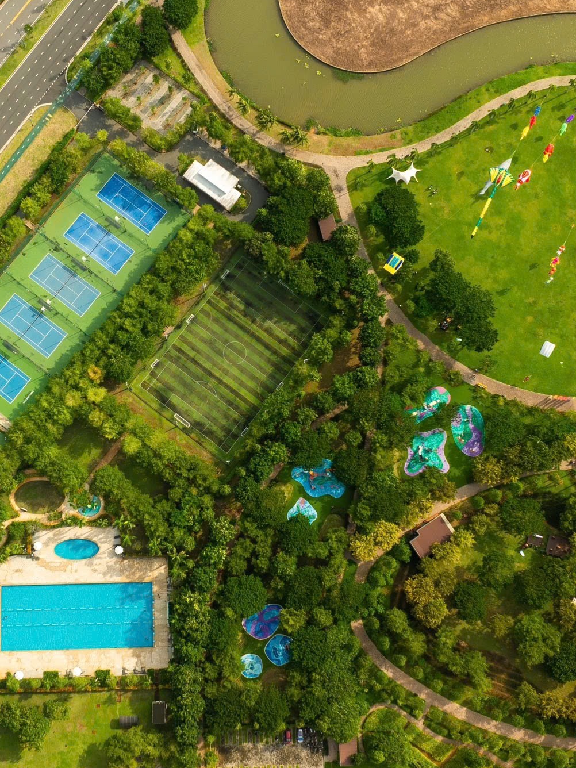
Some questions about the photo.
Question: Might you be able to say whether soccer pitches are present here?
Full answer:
Yes, this view includes a soccer pitch.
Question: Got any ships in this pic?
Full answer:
No, the frame has no ship in it.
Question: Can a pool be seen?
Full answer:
Yes, the image includes a pool.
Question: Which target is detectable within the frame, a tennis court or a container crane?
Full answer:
Of the two, only a tennis court appears.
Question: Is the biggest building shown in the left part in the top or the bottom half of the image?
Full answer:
It is in the top half that the biggest building shown in the left part appears.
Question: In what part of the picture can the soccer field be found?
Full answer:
Look in the center portion of the view to spot the soccer field.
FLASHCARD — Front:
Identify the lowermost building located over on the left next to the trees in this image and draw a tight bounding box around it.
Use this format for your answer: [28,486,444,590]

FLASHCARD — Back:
[152,699,167,724]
